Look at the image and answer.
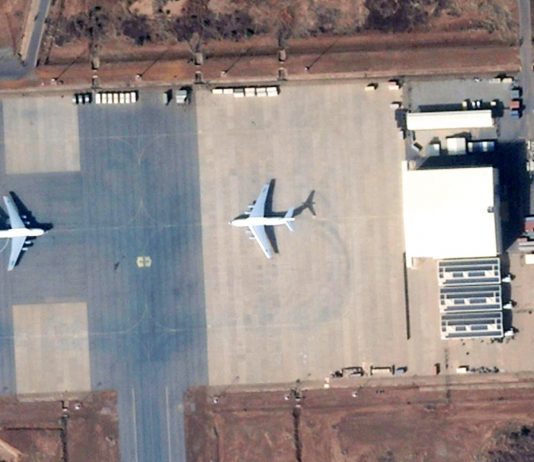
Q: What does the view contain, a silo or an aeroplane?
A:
aeroplane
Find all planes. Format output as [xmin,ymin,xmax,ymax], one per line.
[0,198,44,271]
[229,184,296,258]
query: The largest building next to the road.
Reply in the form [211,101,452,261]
[407,166,501,260]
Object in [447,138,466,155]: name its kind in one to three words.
shed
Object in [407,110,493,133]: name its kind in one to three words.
shed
